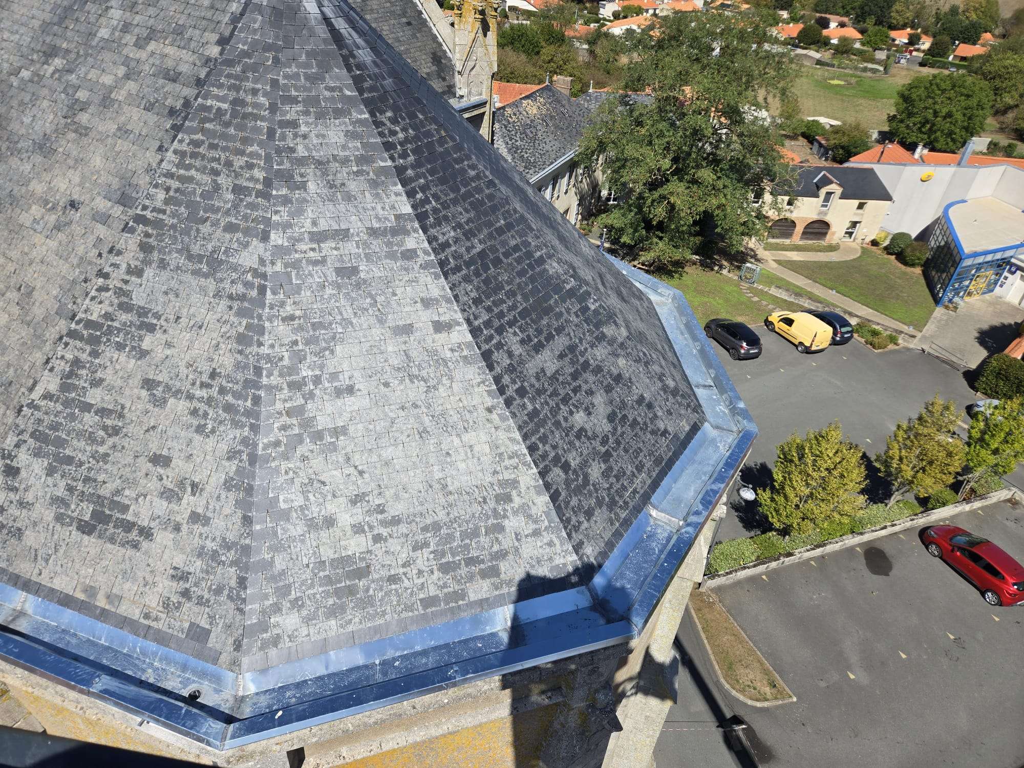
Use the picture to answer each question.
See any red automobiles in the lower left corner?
No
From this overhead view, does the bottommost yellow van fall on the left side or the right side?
right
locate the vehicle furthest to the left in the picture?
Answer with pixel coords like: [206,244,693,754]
[705,316,764,360]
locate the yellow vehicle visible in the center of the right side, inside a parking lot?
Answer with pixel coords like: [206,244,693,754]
[765,310,832,354]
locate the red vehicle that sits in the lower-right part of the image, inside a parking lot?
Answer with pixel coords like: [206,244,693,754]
[923,521,1024,608]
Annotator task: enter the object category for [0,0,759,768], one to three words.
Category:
church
